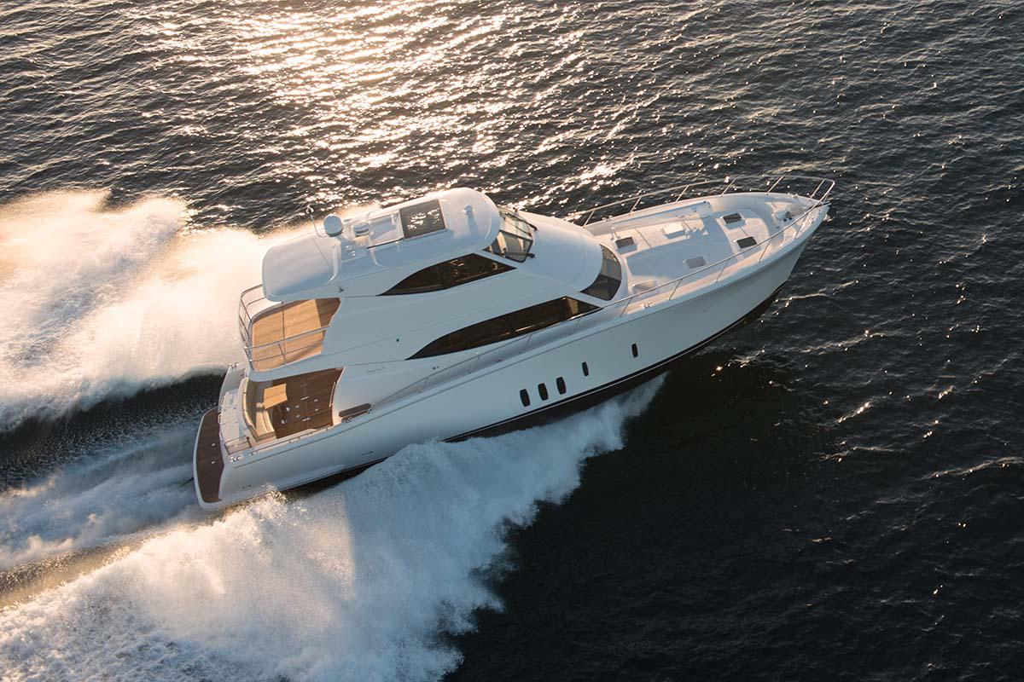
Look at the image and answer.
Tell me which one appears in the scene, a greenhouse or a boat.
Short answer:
boat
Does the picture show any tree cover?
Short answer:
No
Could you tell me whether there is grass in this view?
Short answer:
No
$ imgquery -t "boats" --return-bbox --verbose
[183,173,840,515]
